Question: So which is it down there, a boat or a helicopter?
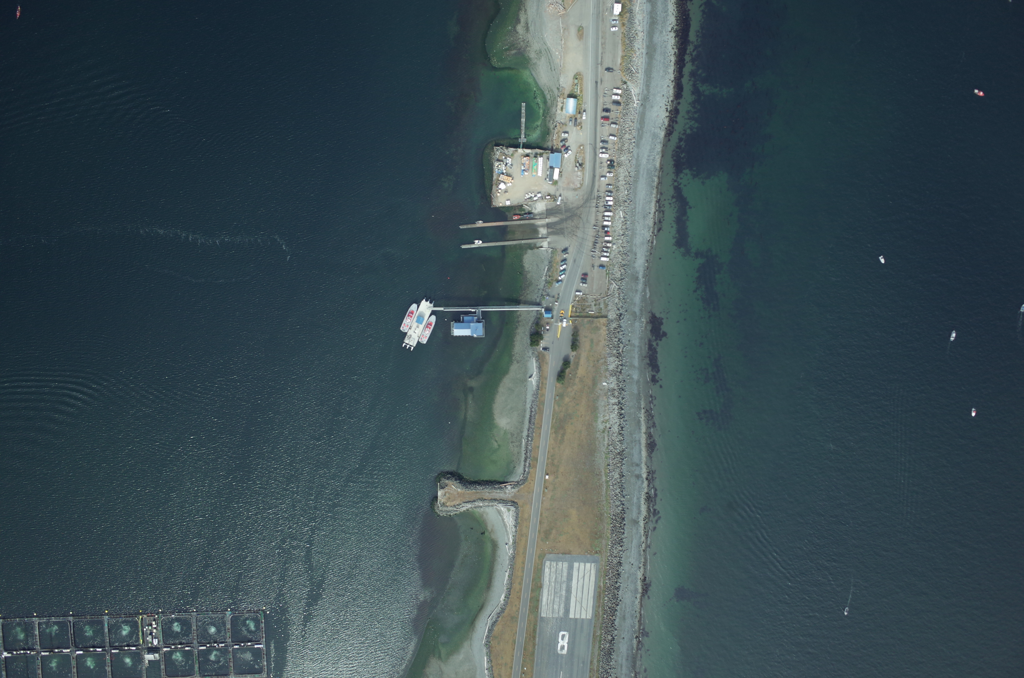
boat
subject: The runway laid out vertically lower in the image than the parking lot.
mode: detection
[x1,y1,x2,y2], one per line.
[534,554,600,678]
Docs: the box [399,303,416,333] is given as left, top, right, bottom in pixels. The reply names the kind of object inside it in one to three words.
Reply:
boat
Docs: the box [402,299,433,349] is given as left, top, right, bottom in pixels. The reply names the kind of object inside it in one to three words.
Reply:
ship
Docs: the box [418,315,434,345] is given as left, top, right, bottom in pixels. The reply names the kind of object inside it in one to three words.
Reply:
boat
